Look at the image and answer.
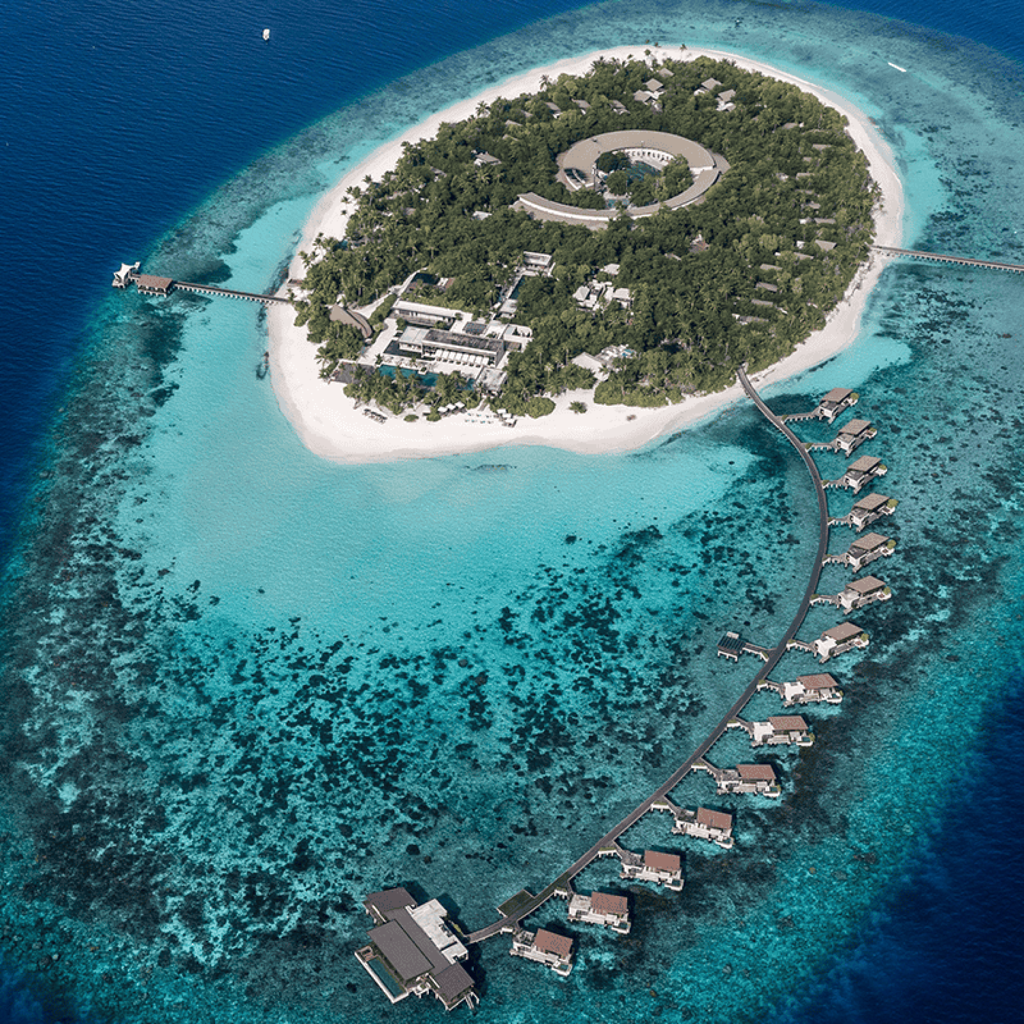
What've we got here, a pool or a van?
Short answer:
pool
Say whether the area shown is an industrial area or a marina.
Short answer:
marina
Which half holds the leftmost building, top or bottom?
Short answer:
top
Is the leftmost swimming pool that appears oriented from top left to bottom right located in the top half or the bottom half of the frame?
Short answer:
bottom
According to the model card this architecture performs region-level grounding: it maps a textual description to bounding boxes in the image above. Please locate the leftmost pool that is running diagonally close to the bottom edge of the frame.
[367,958,406,998]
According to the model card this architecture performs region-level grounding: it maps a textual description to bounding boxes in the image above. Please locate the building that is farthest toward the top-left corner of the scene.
[137,275,174,299]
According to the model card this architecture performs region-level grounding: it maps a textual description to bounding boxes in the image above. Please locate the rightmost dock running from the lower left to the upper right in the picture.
[464,365,830,946]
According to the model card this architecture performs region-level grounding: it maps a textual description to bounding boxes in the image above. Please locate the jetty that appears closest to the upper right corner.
[870,244,1024,276]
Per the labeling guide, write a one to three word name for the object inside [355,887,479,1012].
building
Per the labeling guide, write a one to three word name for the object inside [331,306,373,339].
building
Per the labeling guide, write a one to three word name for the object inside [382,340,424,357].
swimming pool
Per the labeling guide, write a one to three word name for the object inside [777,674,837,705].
house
